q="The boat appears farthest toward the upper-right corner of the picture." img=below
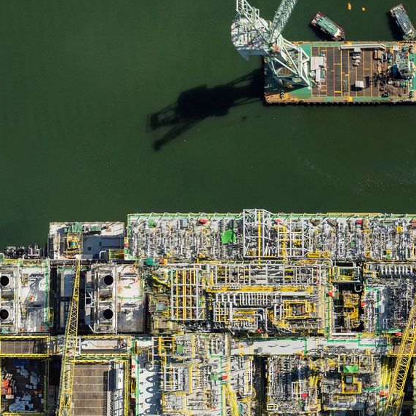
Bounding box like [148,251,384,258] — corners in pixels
[386,2,414,40]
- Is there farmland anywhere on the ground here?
No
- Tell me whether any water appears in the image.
Yes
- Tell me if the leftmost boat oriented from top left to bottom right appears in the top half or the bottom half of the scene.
top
